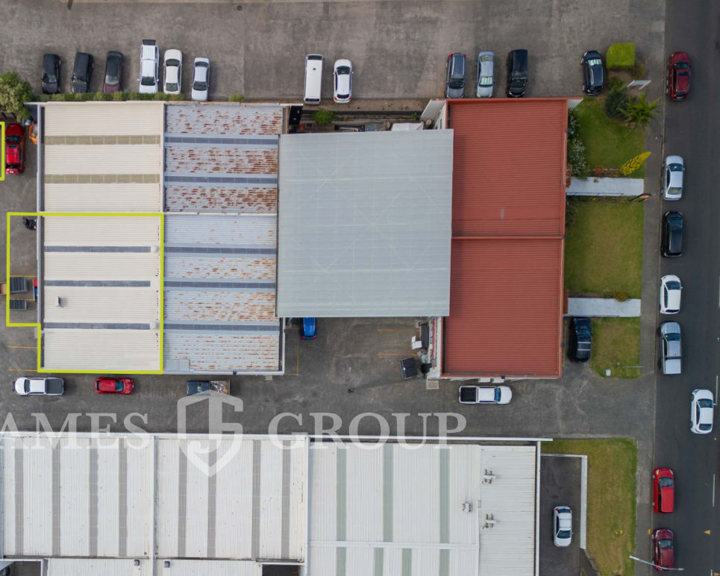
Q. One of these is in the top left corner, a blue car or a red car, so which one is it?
red car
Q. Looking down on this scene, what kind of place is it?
industrial area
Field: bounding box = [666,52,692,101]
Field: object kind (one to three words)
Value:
car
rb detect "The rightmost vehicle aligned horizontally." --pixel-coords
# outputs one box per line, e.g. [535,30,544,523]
[457,384,511,406]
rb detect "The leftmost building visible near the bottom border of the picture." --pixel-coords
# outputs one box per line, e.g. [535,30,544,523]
[0,433,306,576]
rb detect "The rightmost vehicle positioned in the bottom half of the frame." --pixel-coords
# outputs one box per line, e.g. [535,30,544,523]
[690,389,715,435]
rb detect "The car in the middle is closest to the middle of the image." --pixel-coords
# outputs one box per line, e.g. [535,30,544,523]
[299,318,317,342]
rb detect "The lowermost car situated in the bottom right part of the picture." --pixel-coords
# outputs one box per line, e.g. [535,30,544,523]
[651,528,676,571]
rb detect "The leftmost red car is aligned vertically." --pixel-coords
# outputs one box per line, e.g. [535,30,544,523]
[2,127,26,176]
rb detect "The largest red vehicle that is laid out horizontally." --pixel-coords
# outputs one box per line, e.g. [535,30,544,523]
[93,378,135,396]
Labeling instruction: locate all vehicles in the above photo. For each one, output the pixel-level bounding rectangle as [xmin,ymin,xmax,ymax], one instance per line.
[303,54,326,106]
[69,50,93,93]
[551,506,574,547]
[93,378,135,396]
[457,384,511,406]
[299,318,317,342]
[2,127,26,176]
[660,212,687,258]
[331,59,355,105]
[14,375,65,398]
[138,35,160,93]
[666,52,692,101]
[189,57,211,101]
[651,468,677,513]
[445,52,468,99]
[658,321,685,375]
[505,47,530,98]
[474,51,497,98]
[40,54,62,93]
[662,156,686,202]
[186,380,230,399]
[567,317,593,363]
[659,275,684,315]
[580,51,604,97]
[690,389,715,435]
[102,50,124,93]
[651,528,676,571]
